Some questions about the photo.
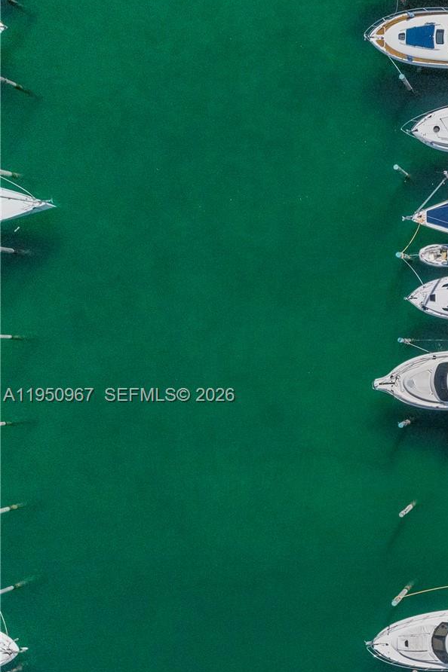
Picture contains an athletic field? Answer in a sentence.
No, the picture doesn't show any athletic field.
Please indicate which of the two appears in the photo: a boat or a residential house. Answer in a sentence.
There is a boat in the scene.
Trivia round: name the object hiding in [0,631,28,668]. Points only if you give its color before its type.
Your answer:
white boat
